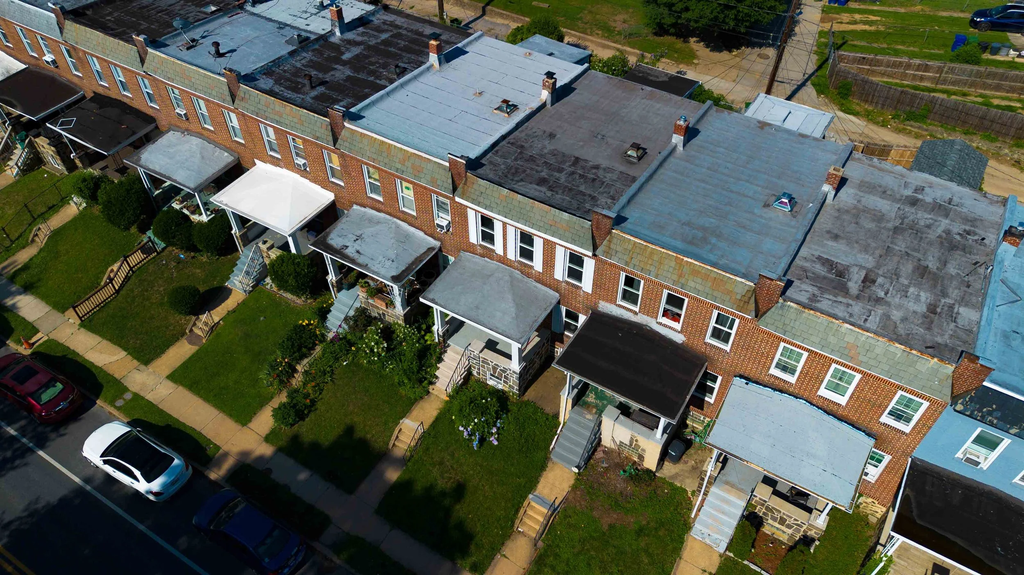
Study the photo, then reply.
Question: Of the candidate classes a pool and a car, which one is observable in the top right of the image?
car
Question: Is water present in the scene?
No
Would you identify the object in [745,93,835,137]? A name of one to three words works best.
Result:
building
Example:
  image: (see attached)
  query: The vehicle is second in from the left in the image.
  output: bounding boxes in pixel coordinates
[87,423,192,506]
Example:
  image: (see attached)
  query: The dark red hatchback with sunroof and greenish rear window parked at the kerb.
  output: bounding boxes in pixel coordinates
[0,358,85,430]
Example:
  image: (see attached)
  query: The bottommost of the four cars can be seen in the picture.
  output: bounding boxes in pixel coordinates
[195,490,310,575]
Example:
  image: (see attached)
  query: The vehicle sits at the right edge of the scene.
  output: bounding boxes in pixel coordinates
[969,4,1024,42]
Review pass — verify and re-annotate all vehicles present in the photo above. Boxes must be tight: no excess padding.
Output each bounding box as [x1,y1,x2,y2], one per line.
[969,4,1024,42]
[0,358,85,430]
[195,490,310,575]
[87,423,192,506]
